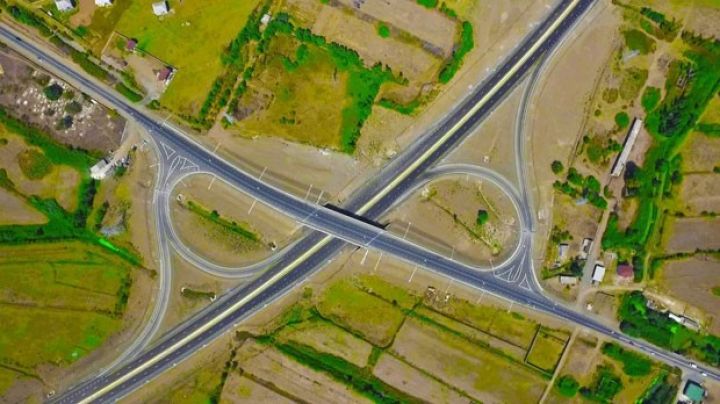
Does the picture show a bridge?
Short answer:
Yes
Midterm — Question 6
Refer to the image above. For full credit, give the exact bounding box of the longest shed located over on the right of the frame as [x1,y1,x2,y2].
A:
[610,118,643,177]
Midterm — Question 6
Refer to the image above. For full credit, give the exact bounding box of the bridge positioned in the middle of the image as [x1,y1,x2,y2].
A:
[292,200,393,254]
